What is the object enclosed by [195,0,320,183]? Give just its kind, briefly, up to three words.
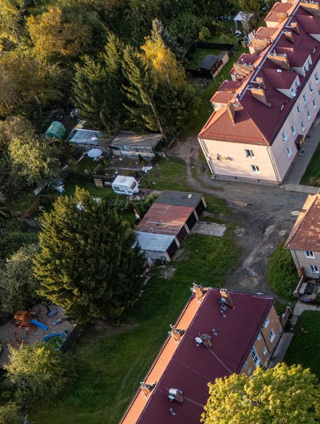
house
